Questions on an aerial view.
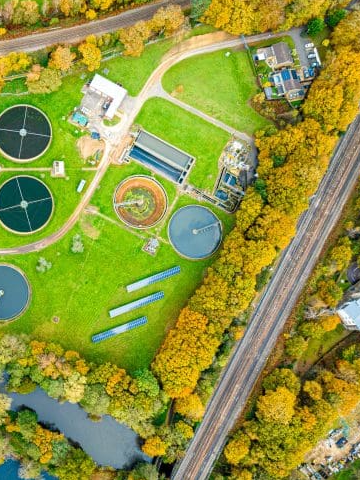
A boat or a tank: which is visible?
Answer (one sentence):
I can see a tank in this picture.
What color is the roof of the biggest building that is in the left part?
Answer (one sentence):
The roof of the biggest building that is in the left part is white.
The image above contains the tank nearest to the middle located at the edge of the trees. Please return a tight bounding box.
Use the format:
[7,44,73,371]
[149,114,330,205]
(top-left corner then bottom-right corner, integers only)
[167,203,223,259]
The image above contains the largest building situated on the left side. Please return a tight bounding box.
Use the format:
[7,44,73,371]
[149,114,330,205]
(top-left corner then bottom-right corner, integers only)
[90,75,127,119]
